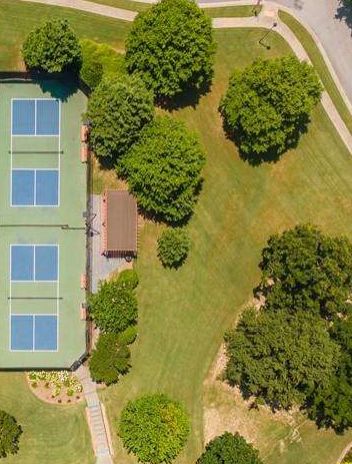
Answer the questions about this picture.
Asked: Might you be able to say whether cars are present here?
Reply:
No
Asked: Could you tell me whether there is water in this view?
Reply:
No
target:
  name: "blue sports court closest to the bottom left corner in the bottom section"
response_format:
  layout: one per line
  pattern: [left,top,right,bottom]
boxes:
[5,244,62,350]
